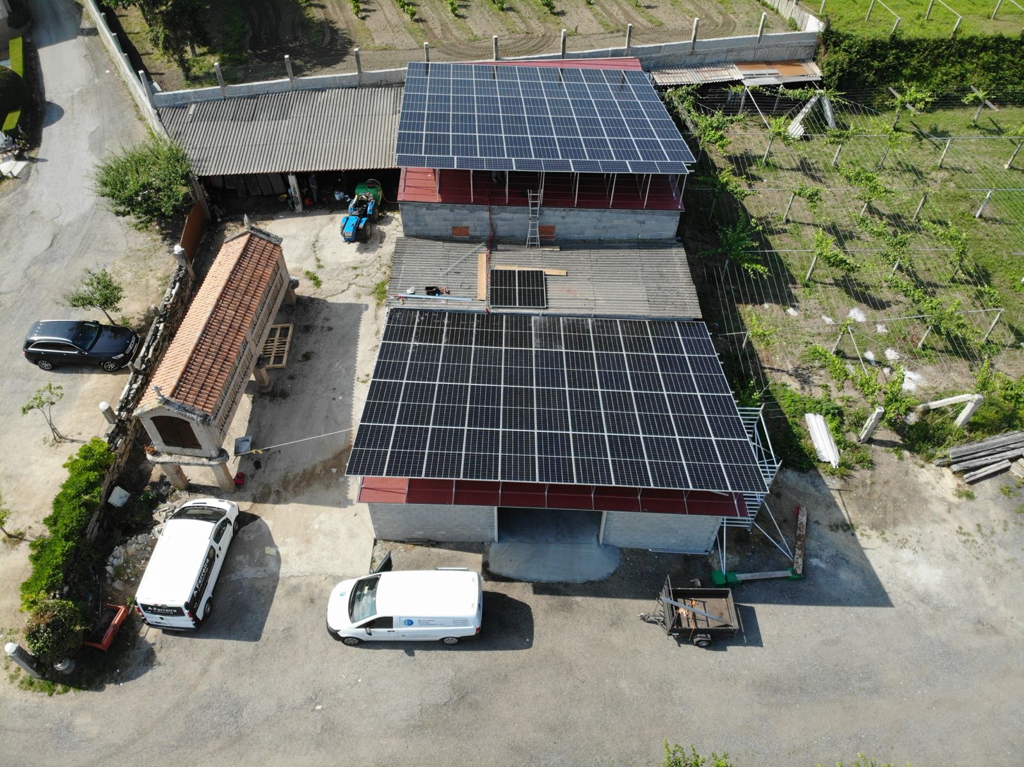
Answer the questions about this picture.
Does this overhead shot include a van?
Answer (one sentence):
Yes, a van appears in the view.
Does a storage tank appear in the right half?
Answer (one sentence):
No, there's no storage tank to be seen in the right half.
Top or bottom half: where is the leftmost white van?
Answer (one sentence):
The bottom half of the photo is where the leftmost white van is.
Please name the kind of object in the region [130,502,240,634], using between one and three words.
van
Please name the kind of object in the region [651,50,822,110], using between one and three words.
shed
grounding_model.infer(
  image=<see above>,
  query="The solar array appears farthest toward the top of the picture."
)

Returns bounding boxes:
[390,61,700,207]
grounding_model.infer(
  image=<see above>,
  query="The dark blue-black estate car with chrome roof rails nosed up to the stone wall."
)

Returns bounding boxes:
[21,321,136,372]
